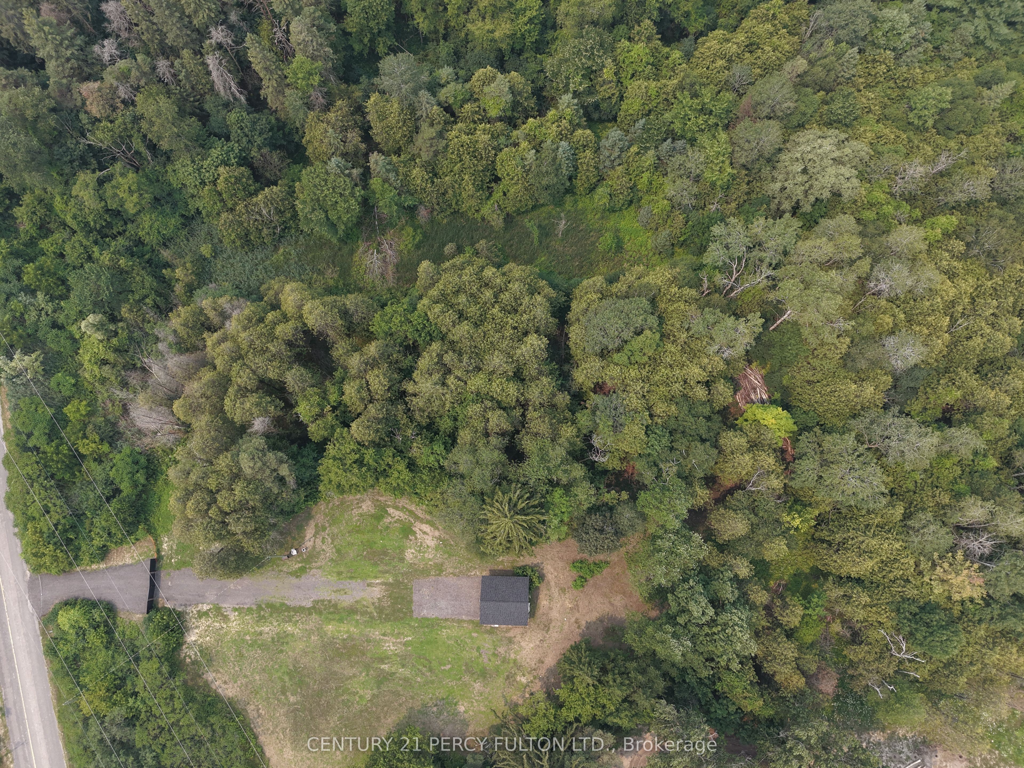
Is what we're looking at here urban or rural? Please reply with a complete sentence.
This place is rural.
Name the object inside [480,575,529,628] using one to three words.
shed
